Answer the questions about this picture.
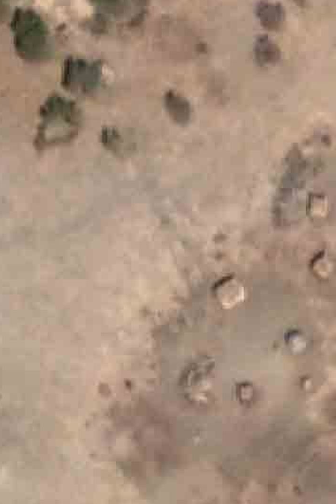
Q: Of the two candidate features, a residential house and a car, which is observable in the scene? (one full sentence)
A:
The image shows a residential house.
